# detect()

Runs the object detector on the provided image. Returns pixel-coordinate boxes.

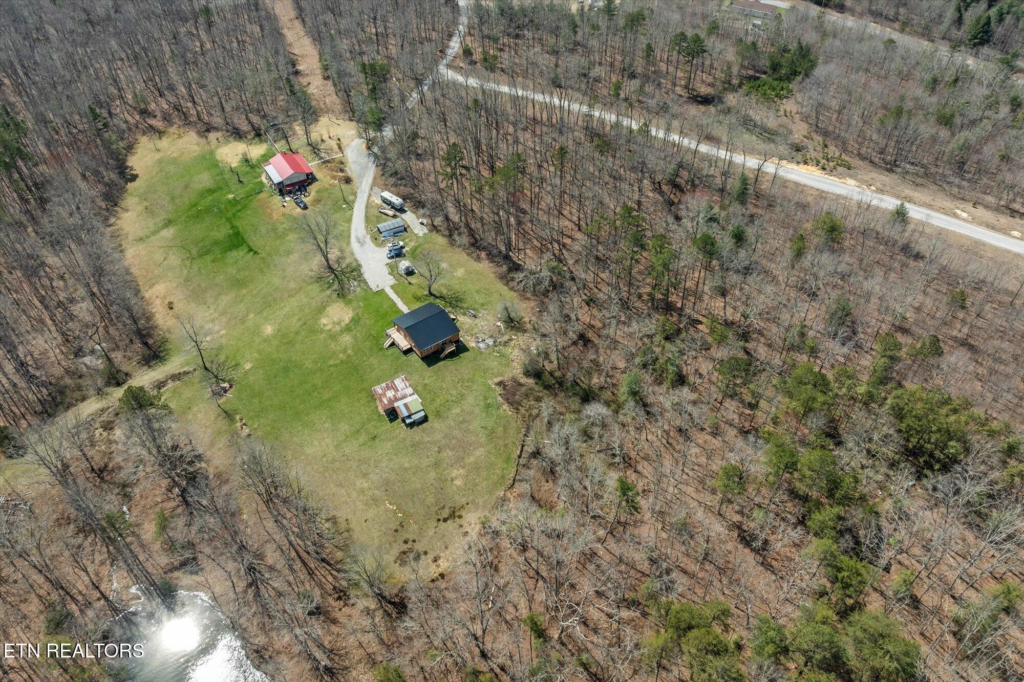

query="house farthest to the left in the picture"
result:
[262,149,315,196]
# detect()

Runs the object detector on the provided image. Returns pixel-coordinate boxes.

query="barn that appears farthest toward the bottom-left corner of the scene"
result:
[372,375,424,425]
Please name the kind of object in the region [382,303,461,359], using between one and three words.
house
